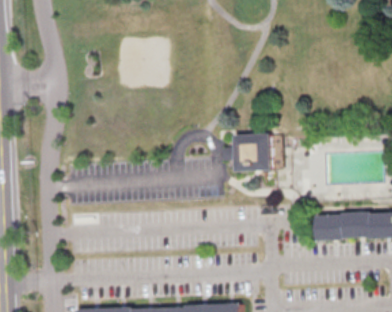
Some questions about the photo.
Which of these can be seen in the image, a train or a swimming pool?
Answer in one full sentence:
The image shows a swimming pool.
